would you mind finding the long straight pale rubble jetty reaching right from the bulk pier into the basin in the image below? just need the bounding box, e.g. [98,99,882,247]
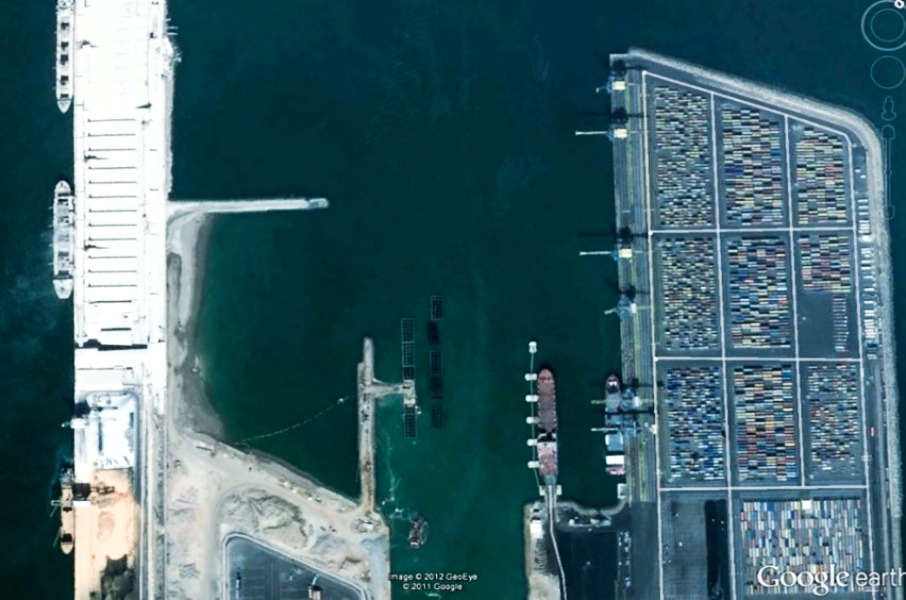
[167,197,328,215]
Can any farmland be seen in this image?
No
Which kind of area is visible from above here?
port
